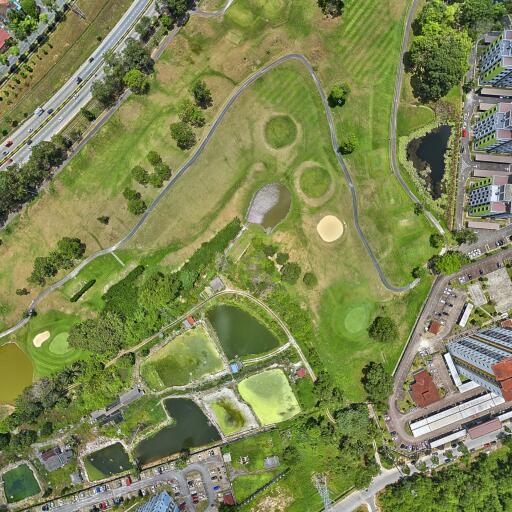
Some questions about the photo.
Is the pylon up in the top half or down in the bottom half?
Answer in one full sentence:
You can find the pylon in the bottom half.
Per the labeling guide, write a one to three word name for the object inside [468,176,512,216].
building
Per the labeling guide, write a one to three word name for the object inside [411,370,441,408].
house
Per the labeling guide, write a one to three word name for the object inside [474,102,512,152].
building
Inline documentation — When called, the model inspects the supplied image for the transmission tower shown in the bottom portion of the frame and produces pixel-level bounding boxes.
[312,468,334,512]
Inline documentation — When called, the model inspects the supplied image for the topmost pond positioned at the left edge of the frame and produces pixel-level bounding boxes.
[0,342,34,404]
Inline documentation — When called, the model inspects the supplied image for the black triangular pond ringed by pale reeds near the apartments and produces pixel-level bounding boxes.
[408,124,452,198]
